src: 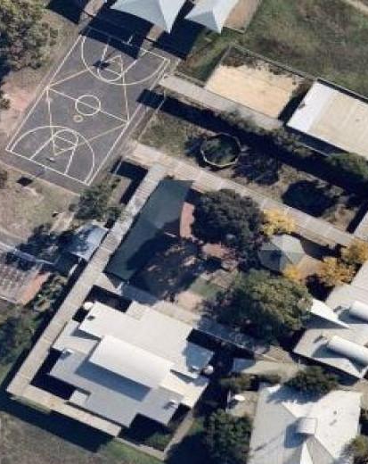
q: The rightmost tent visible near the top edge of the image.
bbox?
[183,0,234,36]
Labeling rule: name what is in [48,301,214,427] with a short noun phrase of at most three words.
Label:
building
